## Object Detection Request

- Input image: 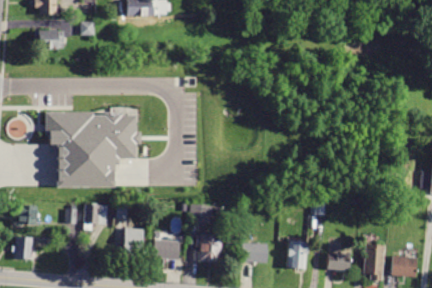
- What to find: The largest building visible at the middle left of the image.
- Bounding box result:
[44,106,142,187]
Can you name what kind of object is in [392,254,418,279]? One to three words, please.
house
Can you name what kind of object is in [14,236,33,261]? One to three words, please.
building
